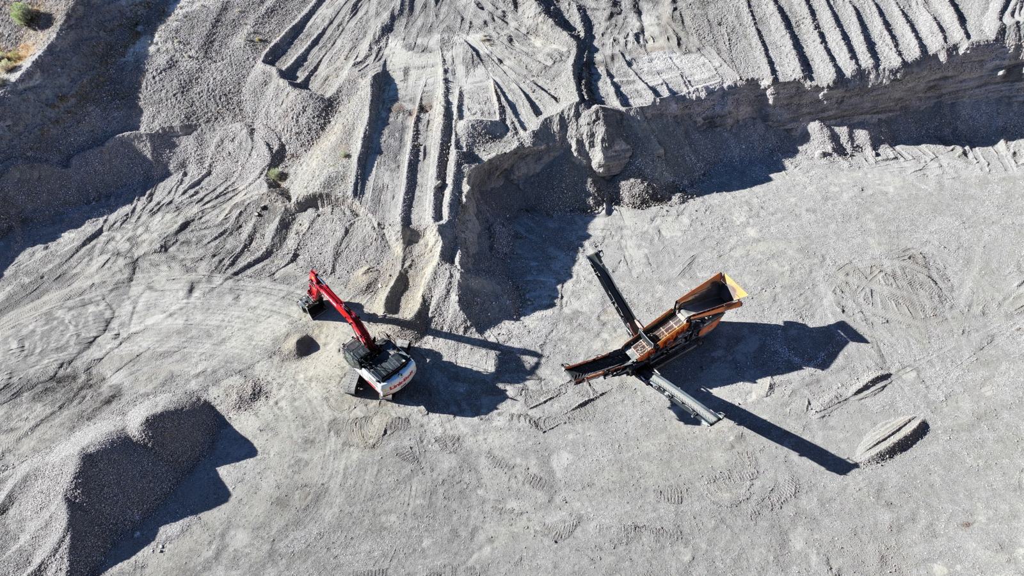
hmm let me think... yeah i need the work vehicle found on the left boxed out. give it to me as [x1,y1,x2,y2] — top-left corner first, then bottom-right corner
[308,269,419,400]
